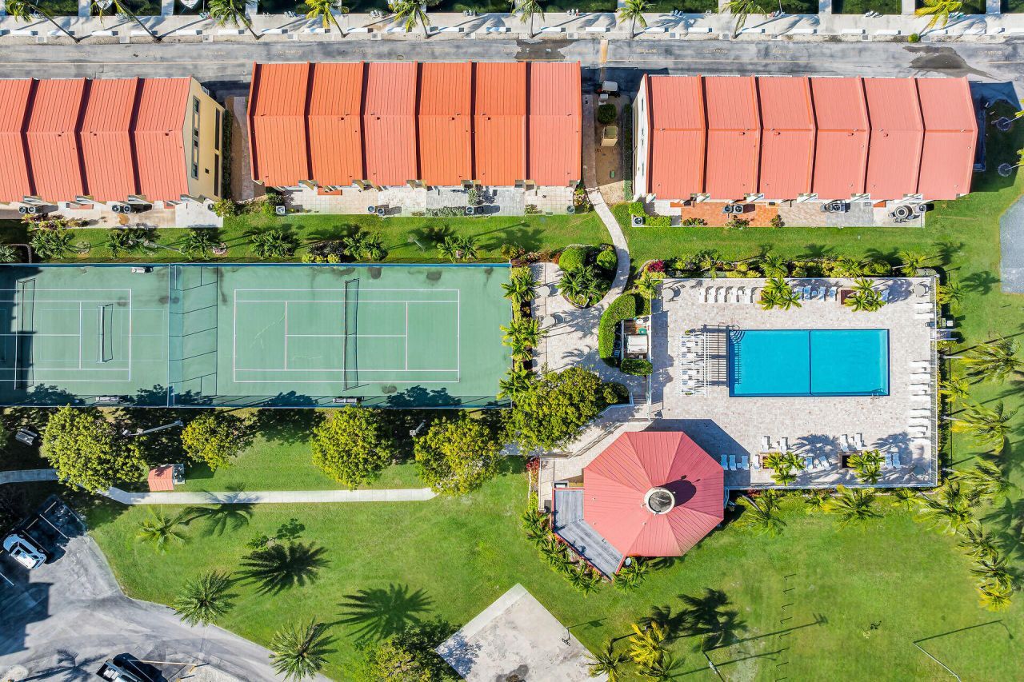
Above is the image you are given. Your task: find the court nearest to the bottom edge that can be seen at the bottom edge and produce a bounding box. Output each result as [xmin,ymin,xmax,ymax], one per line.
[445,584,614,682]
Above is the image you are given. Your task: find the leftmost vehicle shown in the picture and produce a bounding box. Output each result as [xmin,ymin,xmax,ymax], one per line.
[0,536,44,573]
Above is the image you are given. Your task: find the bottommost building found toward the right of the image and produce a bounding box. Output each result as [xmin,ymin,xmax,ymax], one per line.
[553,431,724,584]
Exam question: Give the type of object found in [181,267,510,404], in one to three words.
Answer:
tennis court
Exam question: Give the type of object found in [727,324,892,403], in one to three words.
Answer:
swimming pool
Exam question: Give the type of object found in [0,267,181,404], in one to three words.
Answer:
tennis court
